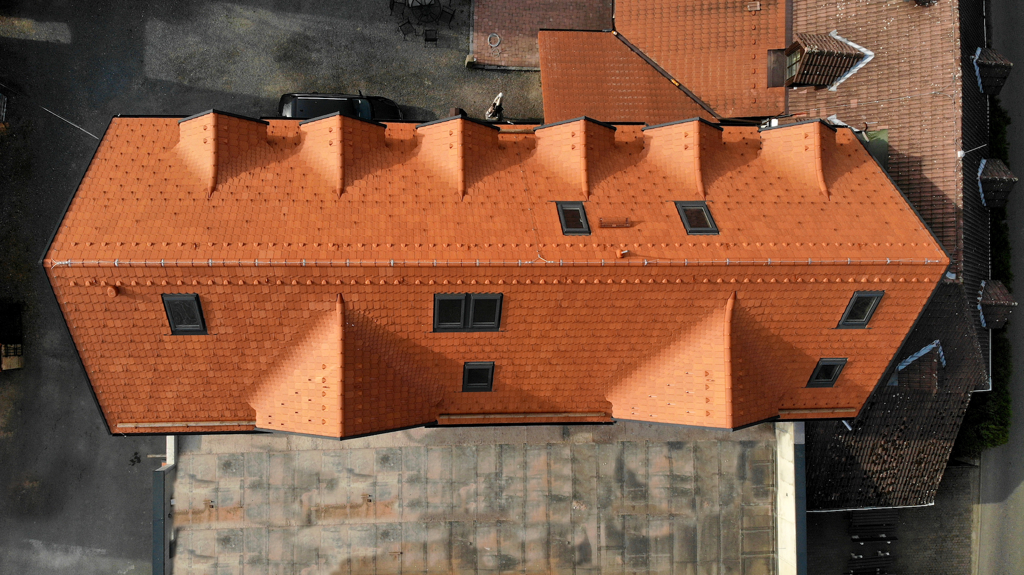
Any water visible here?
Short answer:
No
